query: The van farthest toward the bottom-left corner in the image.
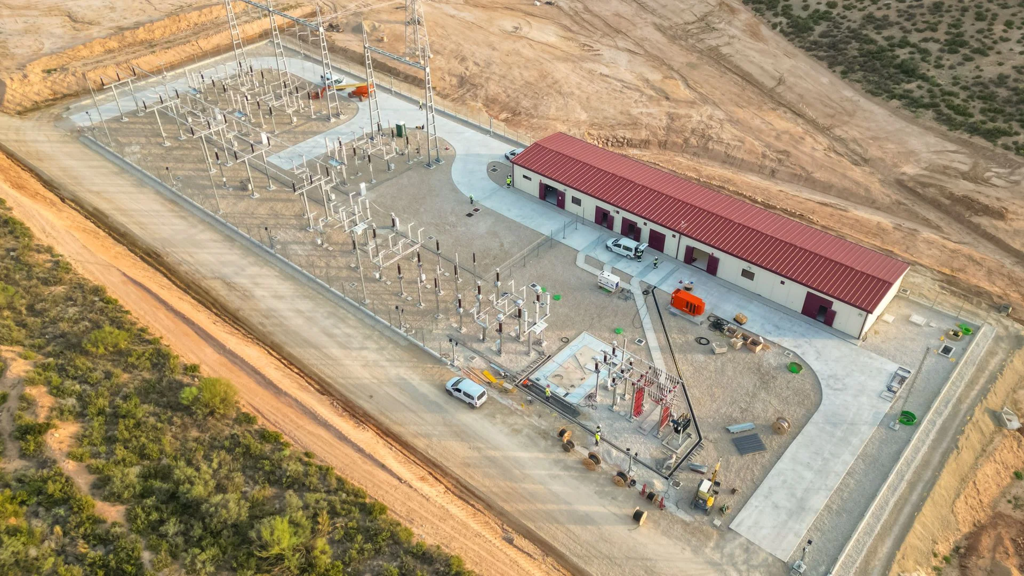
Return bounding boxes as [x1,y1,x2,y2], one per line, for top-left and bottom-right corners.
[446,375,489,411]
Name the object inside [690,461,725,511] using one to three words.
work vehicle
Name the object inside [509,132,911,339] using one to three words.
building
